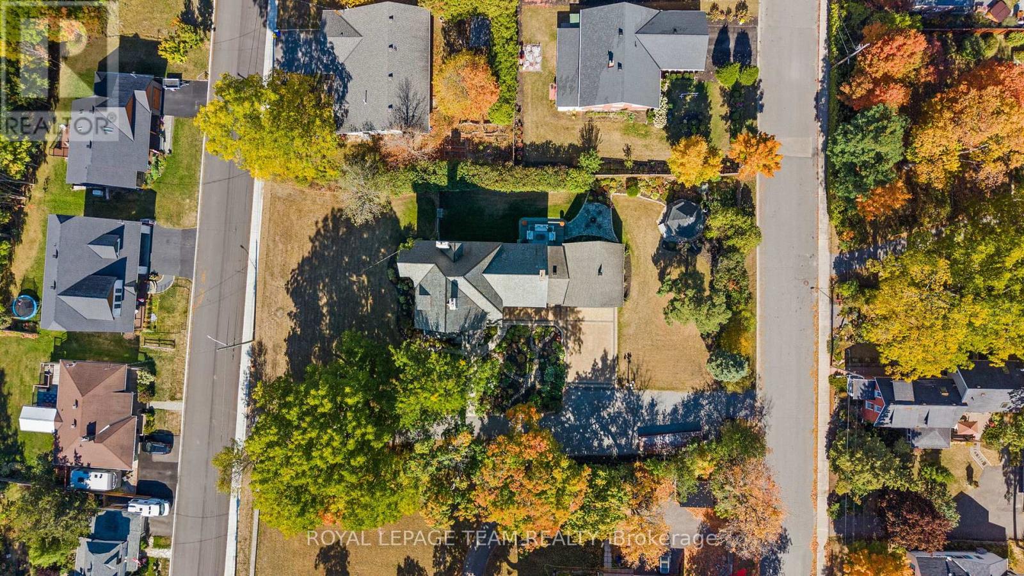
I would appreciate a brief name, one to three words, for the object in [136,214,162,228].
car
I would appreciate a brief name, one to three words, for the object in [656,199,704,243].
gazebo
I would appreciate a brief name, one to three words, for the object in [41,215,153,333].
house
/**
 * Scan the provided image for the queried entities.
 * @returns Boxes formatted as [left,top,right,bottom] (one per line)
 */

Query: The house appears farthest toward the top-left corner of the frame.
[66,72,162,189]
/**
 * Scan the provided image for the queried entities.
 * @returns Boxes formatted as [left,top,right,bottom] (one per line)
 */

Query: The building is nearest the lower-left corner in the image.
[75,507,147,576]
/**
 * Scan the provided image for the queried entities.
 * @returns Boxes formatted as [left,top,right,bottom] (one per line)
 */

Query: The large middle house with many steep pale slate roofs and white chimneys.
[397,240,624,342]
